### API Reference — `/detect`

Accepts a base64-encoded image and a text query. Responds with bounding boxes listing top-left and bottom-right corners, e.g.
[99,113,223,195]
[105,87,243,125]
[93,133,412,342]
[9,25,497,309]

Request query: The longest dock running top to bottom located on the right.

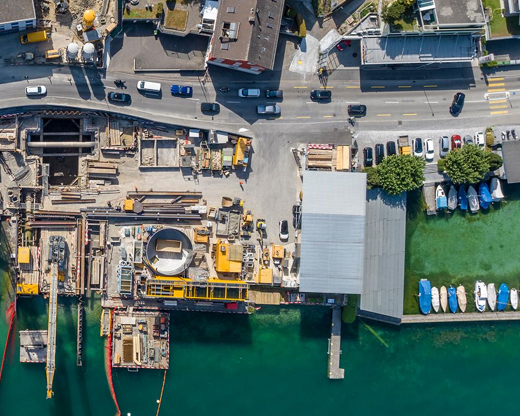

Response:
[328,306,344,378]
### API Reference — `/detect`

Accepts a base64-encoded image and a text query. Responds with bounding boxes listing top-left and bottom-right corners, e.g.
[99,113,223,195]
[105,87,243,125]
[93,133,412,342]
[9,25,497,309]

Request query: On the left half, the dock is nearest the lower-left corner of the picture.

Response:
[19,330,48,361]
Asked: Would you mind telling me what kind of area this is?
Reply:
port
